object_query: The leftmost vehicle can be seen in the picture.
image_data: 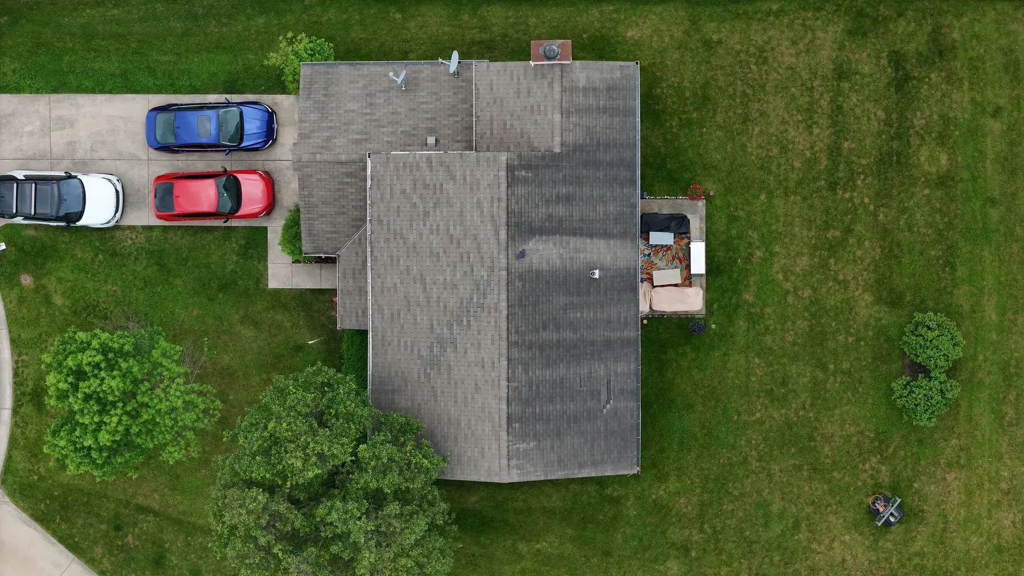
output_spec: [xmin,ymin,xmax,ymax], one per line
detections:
[0,166,127,230]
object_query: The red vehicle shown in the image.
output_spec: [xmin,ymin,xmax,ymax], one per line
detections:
[149,165,276,223]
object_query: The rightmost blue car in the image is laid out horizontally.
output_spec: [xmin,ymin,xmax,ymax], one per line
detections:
[143,96,278,155]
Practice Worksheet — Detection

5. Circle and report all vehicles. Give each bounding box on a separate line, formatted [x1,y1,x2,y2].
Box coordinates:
[143,96,278,155]
[149,165,276,223]
[0,166,127,230]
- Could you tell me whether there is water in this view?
No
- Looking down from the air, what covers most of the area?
grass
